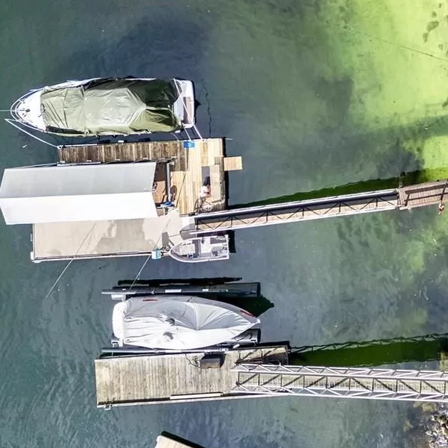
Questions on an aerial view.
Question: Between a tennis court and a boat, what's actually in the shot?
boat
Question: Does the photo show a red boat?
No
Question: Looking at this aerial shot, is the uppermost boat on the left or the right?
left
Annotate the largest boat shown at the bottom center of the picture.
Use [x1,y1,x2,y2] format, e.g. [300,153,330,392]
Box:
[102,301,253,356]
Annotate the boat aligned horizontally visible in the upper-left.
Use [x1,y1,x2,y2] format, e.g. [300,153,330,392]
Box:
[0,78,200,141]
